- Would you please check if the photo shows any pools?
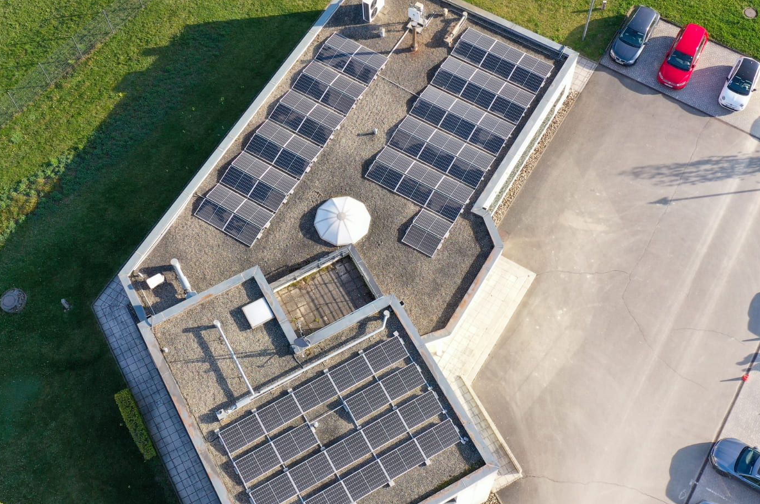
No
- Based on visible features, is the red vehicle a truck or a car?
car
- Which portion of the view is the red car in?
top right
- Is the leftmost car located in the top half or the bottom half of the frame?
top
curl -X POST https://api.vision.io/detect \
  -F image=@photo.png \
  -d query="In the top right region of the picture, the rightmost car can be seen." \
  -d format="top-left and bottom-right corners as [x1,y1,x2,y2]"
[717,53,760,112]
